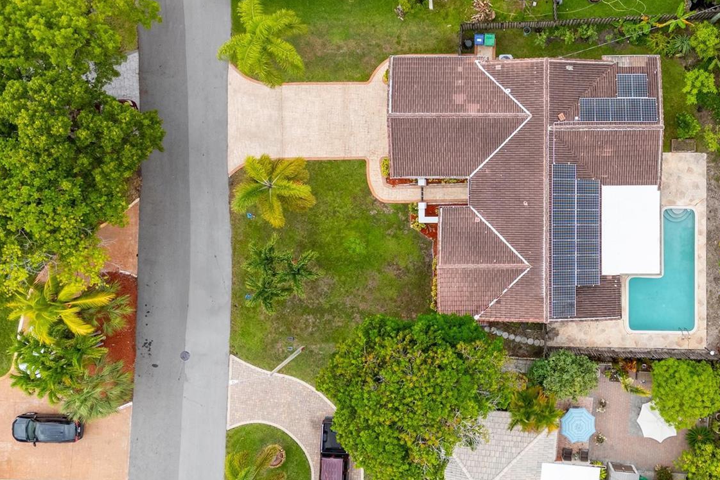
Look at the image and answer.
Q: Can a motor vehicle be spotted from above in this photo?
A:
Yes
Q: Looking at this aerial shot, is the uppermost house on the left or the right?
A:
right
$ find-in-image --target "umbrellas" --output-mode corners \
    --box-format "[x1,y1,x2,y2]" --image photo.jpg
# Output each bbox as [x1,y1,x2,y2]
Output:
[560,405,595,440]
[631,396,677,445]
